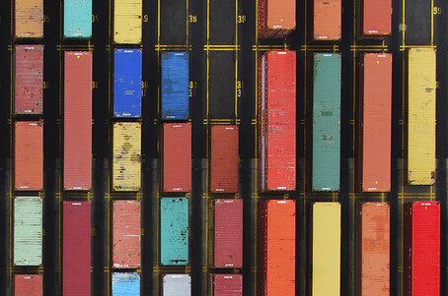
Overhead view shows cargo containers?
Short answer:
Yes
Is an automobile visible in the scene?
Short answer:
No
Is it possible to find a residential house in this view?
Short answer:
No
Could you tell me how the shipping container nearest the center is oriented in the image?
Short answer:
up and down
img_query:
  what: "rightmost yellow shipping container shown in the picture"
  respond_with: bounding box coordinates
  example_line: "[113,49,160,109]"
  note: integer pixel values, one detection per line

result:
[404,47,435,188]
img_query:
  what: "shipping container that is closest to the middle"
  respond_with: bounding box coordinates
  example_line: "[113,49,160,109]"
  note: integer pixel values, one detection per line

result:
[209,124,239,195]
